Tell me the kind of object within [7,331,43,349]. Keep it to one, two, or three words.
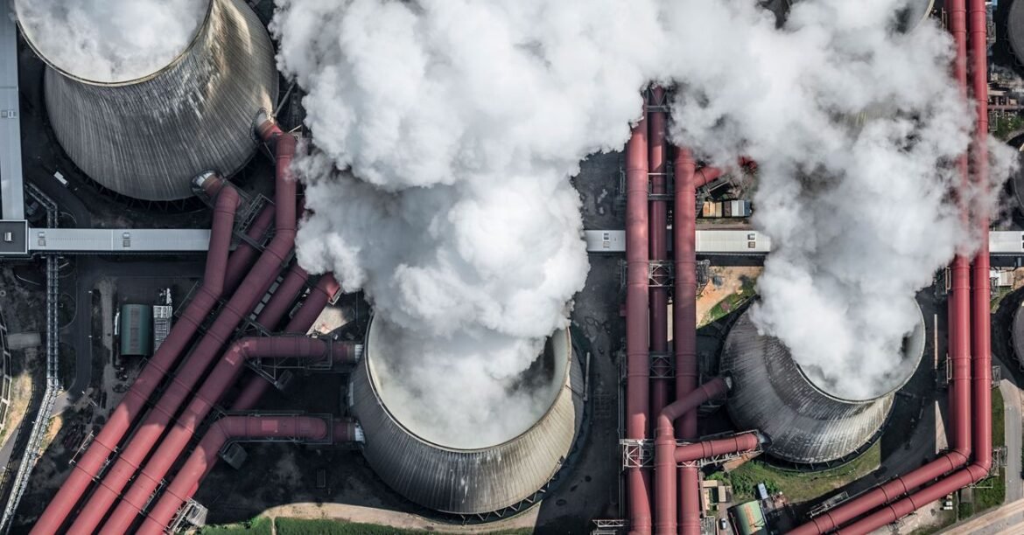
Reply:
shed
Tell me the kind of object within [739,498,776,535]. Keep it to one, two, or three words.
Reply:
hangar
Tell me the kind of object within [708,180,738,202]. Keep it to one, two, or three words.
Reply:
house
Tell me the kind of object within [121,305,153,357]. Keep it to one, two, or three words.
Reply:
hangar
